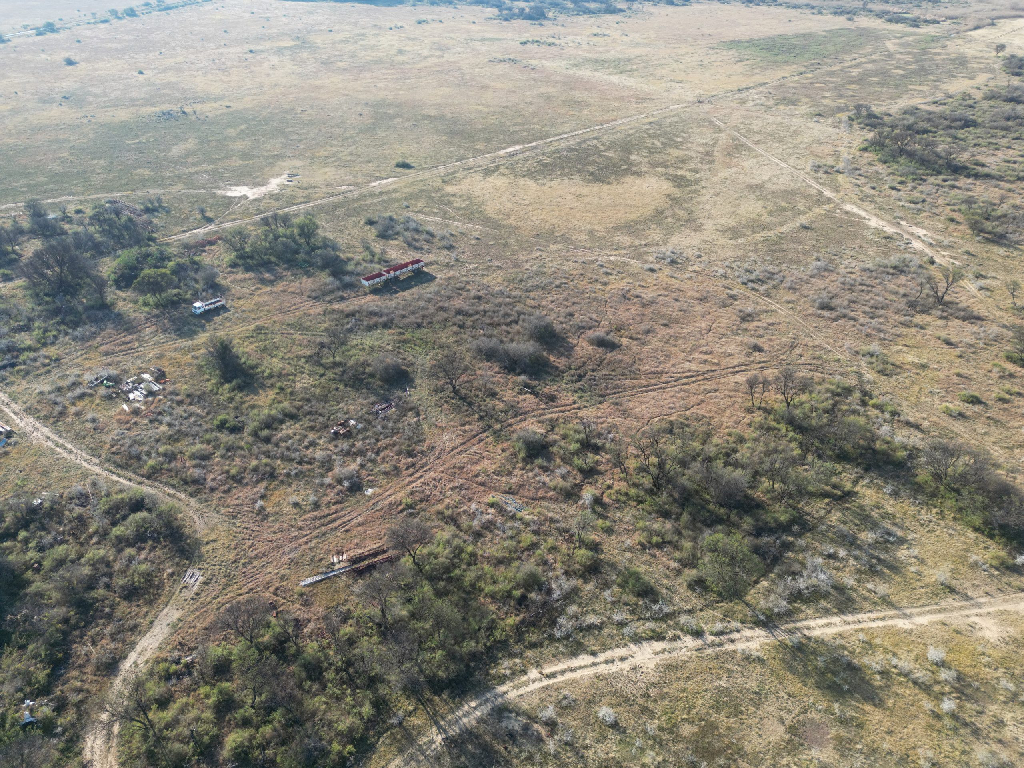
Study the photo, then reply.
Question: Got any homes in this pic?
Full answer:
No, the photo shows no home.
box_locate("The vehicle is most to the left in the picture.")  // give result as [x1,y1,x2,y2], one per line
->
[192,297,226,315]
